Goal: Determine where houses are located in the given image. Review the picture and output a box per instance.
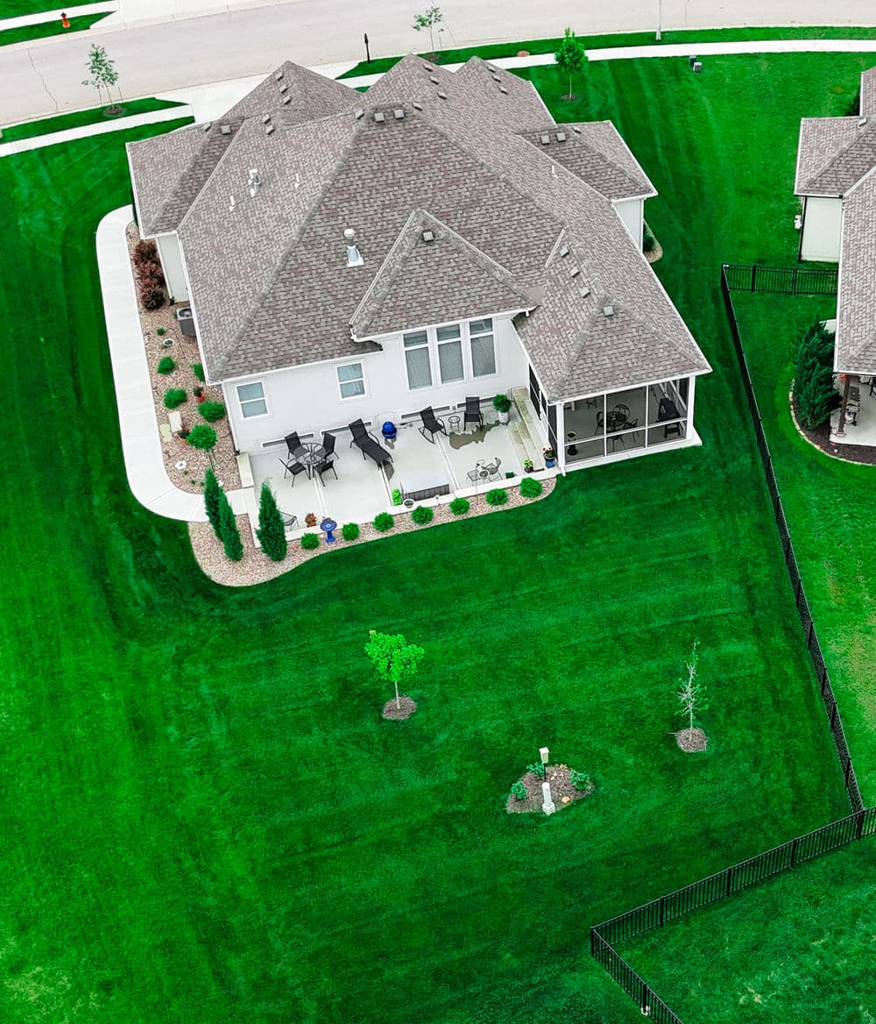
[123,54,717,478]
[792,71,876,447]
